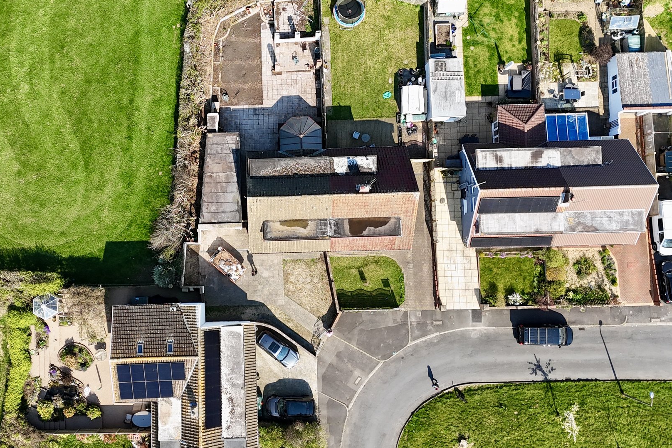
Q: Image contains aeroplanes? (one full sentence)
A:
No, the photo shows no aeroplane.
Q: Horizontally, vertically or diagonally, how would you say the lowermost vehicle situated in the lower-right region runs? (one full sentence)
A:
What the image shows is the lowermost vehicle situated in the lower-right region lying horizontally.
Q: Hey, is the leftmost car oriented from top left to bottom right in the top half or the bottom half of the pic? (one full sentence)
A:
It is in the bottom half that the leftmost car oriented from top left to bottom right appears.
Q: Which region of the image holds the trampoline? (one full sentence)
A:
The trampoline appears toward the top of the photo.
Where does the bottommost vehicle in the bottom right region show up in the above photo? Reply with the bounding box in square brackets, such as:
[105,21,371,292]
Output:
[515,323,572,349]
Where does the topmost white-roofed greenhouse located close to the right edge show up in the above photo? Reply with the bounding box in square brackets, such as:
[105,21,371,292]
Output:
[600,9,642,35]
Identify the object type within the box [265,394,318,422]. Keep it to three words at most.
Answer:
car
